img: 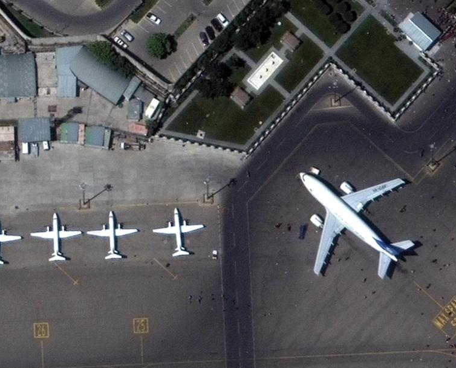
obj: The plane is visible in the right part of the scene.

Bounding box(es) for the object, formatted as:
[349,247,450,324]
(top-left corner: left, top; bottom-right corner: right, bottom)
[299,173,414,277]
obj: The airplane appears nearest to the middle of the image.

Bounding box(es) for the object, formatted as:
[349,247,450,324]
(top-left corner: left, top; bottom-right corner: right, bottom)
[153,207,204,254]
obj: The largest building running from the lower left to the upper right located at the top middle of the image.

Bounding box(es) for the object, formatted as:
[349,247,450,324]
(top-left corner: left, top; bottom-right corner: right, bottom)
[247,51,284,92]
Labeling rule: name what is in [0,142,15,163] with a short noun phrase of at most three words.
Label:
house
